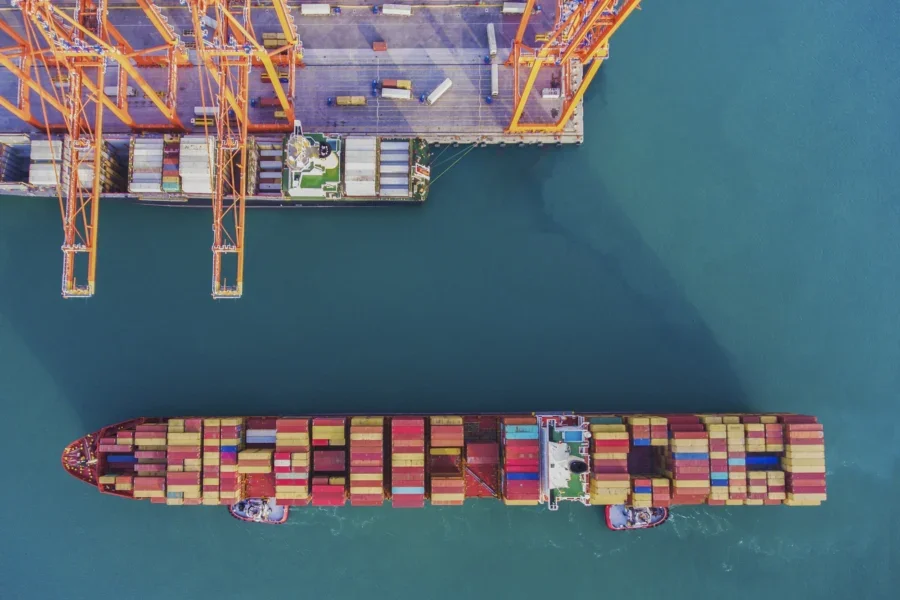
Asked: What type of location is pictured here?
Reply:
port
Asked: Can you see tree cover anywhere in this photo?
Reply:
No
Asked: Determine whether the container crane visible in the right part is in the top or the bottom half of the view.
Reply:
top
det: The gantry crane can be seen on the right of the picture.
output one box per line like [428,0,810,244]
[502,0,636,134]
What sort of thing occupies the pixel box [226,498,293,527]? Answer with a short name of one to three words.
boat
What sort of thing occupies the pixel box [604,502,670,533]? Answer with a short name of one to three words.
boat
